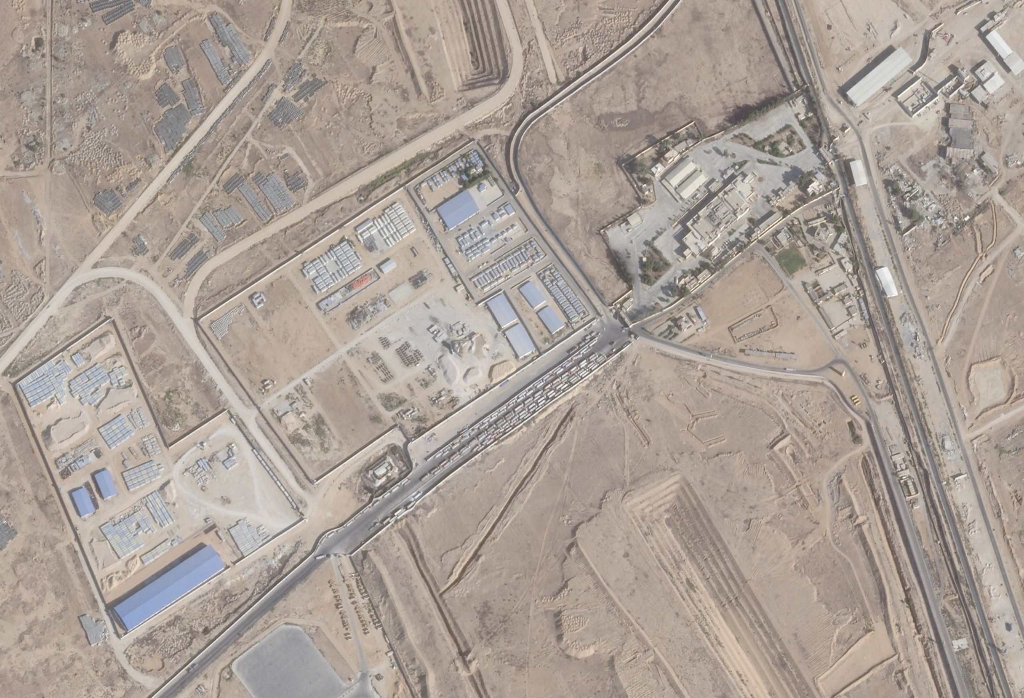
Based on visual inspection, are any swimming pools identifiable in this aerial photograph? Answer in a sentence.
No, this view has no swimming pool in it.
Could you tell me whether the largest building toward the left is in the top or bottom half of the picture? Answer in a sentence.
The bottom half of the photo is where the largest building toward the left is.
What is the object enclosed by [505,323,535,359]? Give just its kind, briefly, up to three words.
building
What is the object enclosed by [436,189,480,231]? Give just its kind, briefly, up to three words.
building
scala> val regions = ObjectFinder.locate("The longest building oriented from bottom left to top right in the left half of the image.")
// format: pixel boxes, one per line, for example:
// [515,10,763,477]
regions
[113,545,225,633]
